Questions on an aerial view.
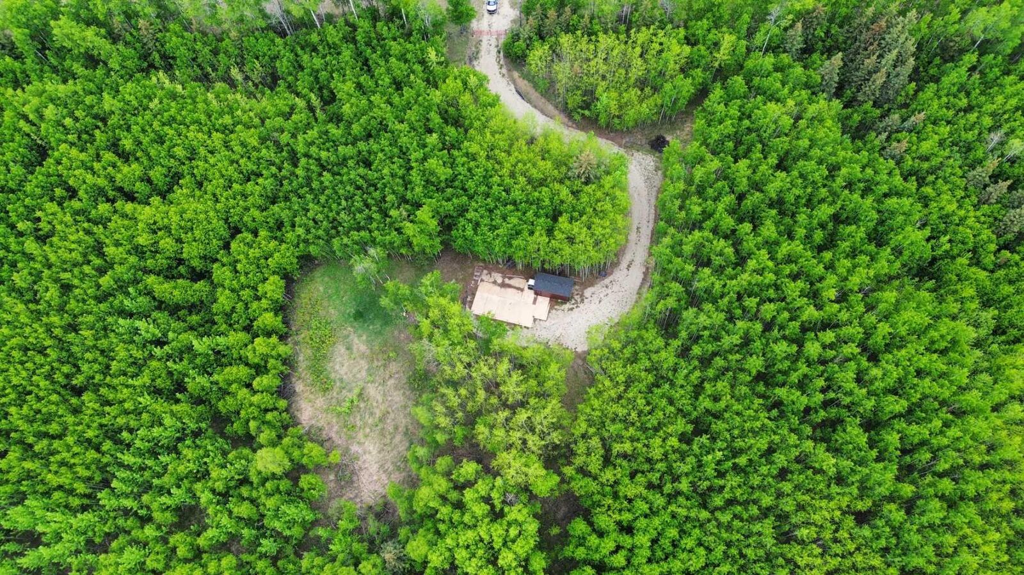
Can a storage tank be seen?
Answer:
No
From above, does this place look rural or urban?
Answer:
rural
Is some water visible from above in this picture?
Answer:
No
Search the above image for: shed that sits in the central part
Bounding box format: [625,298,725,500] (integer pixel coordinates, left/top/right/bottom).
[532,273,574,301]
